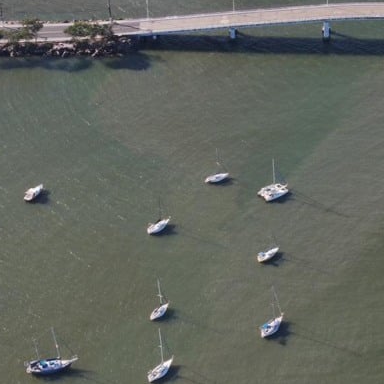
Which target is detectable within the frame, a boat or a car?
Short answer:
boat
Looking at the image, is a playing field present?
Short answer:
No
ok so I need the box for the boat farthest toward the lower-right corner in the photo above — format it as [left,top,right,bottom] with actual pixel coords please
[257,293,282,339]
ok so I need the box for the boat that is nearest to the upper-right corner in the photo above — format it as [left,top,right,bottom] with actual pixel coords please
[257,159,292,202]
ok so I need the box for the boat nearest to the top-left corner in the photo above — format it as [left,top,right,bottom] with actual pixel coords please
[21,183,43,200]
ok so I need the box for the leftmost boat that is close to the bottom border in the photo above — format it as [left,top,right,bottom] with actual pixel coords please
[24,329,79,374]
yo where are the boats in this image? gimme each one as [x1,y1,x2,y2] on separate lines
[257,159,292,202]
[254,226,280,264]
[146,282,170,321]
[144,327,175,383]
[24,329,79,374]
[257,293,282,339]
[21,183,43,200]
[203,167,230,184]
[145,197,170,235]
